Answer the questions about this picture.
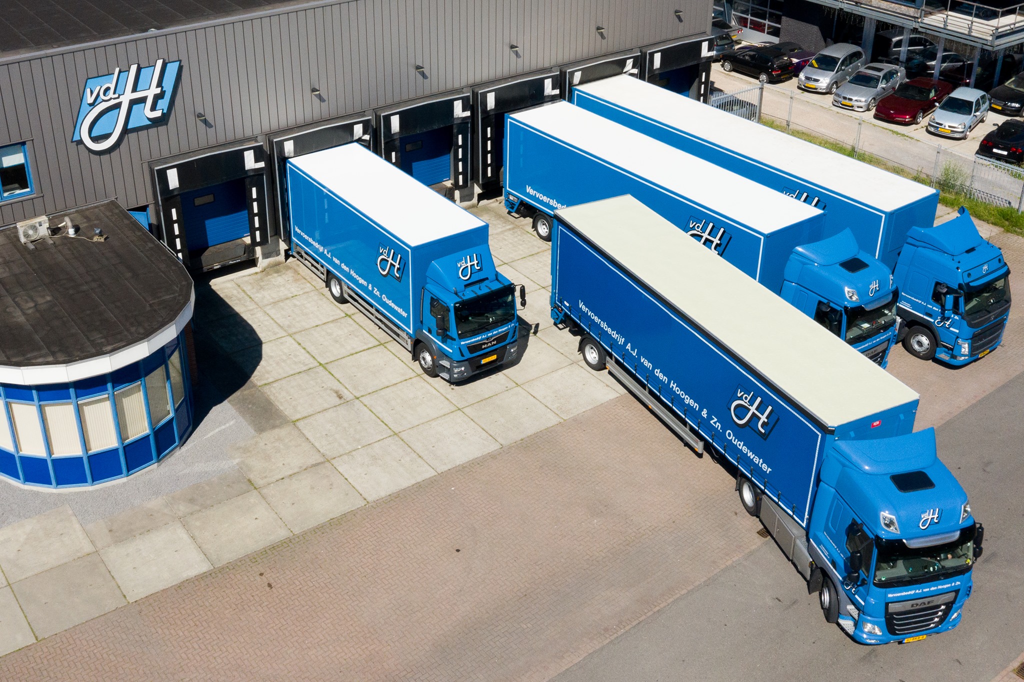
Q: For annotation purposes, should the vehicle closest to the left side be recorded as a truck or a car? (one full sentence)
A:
It turns out the vehicle closest to the left side is a truck.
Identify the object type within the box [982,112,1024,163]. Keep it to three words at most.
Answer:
car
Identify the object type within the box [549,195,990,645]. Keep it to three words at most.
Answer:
truck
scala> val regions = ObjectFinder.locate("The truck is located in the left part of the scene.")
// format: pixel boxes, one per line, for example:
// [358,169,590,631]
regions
[289,143,530,379]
